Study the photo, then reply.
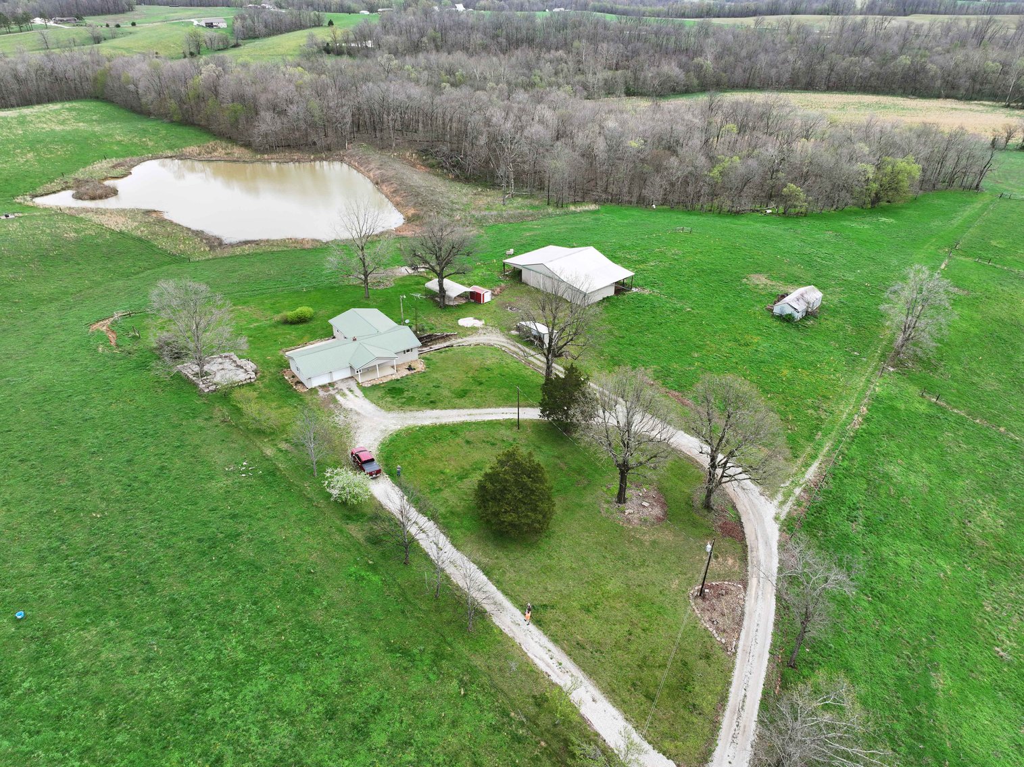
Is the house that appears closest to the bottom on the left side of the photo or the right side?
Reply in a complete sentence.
It is on the left.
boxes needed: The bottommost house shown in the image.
[288,310,421,389]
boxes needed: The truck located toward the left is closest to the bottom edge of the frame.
[349,442,383,476]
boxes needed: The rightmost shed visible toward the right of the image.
[775,285,822,321]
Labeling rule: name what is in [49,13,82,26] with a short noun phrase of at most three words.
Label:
house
